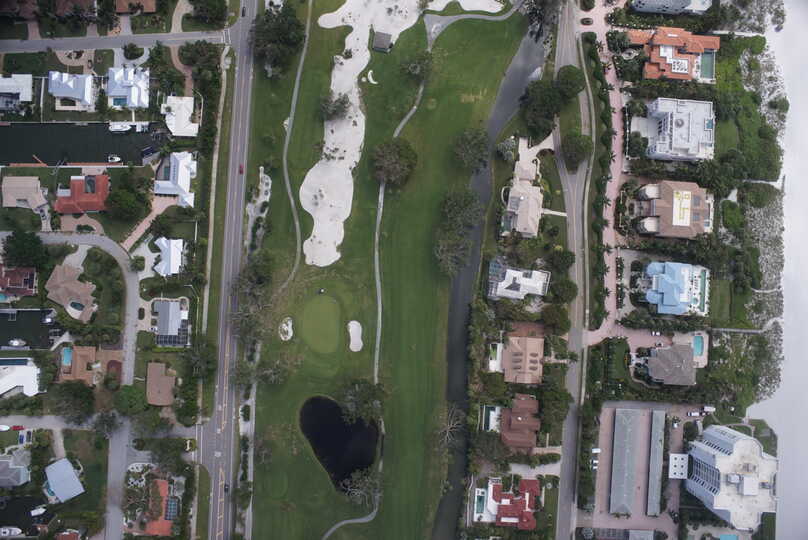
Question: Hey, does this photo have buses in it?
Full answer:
No, this view has no bus in it.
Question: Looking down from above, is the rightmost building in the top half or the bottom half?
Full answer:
The bottom half of the photo is where the rightmost building is.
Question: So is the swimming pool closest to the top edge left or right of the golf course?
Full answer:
Relative to the golf course, the swimming pool closest to the top edge is on the right.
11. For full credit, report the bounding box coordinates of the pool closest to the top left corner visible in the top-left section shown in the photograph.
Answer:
[54,96,94,111]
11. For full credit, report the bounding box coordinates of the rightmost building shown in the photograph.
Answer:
[686,425,779,532]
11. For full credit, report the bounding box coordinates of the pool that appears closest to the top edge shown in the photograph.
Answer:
[692,50,716,84]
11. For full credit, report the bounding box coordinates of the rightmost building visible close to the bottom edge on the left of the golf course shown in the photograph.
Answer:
[145,479,174,536]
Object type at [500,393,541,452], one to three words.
house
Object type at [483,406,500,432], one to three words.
swimming pool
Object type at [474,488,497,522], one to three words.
swimming pool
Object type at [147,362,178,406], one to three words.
house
